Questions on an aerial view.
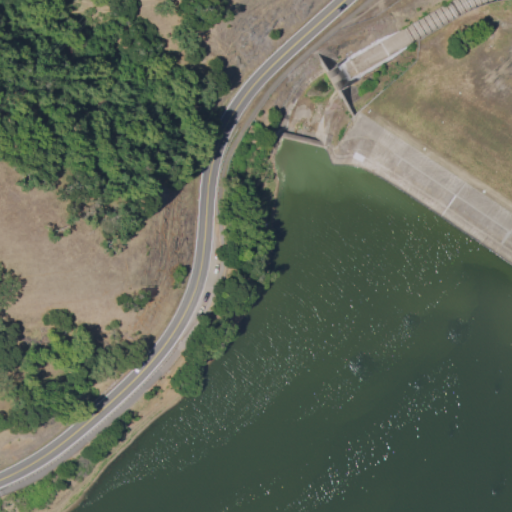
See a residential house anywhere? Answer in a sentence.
No, no residential house is visible in the scene.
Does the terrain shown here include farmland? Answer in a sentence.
No, there's no farmland in this view.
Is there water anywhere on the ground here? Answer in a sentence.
Yes, there's water in this view.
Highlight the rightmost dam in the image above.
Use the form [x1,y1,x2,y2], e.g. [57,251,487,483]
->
[330,113,512,266]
